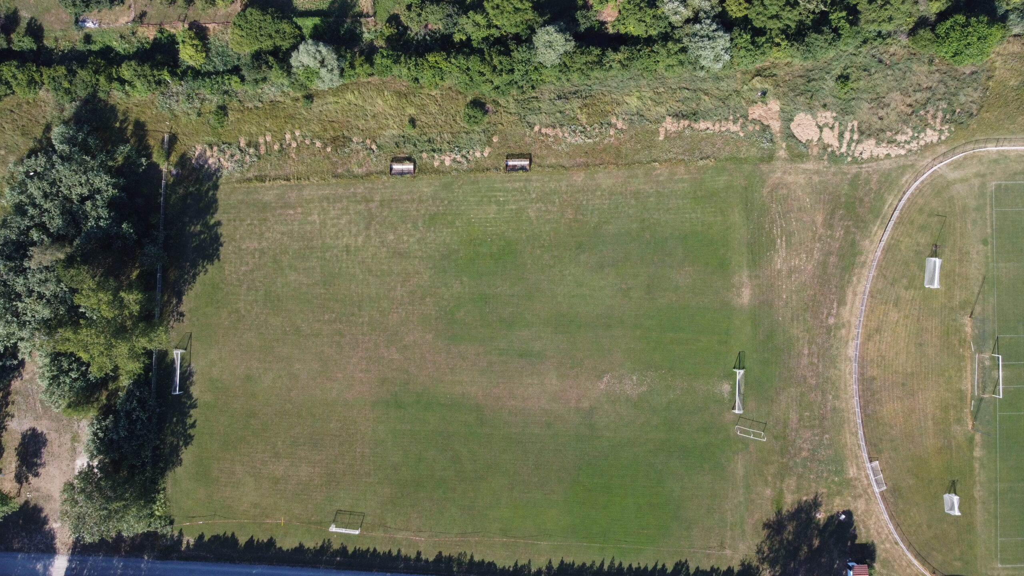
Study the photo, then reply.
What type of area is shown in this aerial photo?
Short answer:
sports ground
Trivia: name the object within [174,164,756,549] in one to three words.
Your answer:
sports field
